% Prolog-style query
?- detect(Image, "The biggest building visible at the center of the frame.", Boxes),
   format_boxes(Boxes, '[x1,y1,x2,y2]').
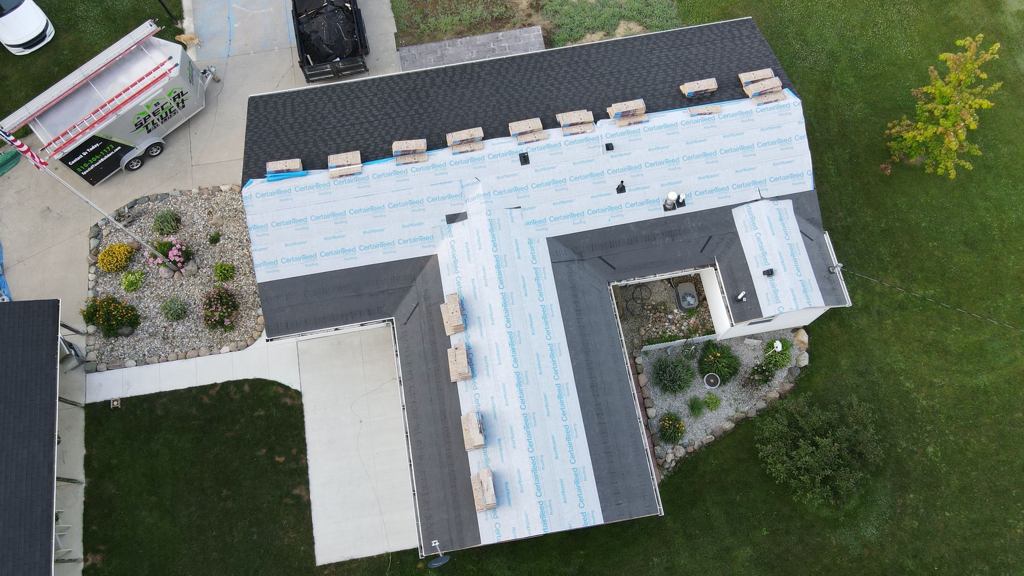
[240,15,858,558]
